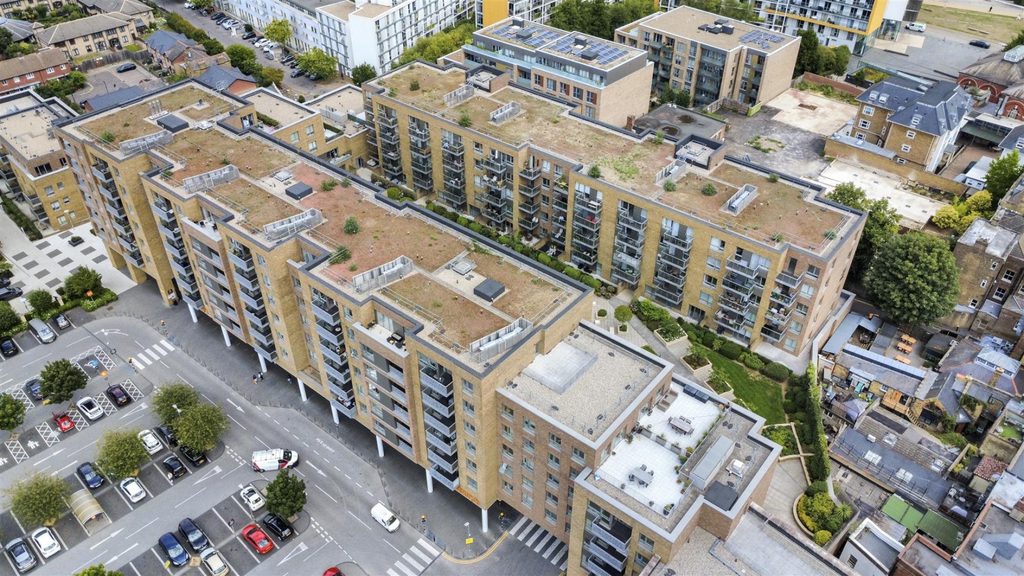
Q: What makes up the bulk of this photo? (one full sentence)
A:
Most of the picture is covered by buildings.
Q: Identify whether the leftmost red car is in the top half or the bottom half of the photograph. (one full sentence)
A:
The leftmost red car sits in the bottom half of the picture.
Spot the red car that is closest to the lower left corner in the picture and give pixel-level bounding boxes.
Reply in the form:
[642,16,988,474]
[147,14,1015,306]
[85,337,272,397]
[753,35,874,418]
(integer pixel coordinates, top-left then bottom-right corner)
[50,409,77,434]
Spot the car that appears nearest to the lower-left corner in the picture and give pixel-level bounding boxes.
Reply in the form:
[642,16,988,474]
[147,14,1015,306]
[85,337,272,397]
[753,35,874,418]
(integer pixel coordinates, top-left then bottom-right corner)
[4,537,38,574]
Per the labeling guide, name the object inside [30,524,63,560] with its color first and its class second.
white car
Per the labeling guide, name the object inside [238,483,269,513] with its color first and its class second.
white car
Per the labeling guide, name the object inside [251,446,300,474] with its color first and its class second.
white van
